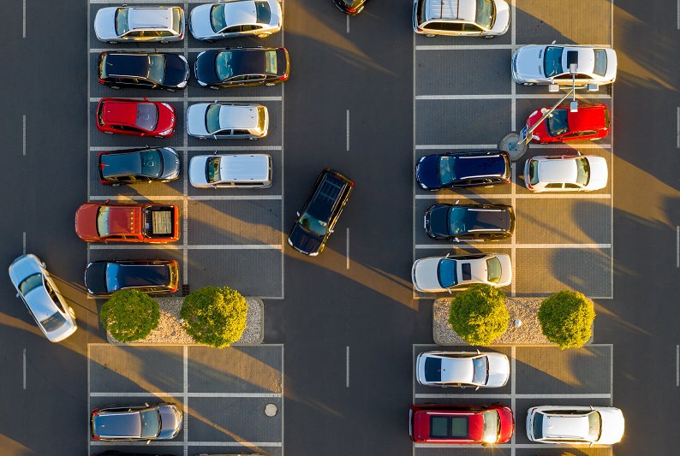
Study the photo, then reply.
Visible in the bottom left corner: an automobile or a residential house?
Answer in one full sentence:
Visible in the bottom left corner is an automobile.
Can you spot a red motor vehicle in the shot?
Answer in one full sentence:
Yes, there's a red motor vehicle down there.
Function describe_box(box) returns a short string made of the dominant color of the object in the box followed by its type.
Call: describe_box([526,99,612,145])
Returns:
red car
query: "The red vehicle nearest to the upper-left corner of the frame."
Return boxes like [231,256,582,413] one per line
[94,91,178,137]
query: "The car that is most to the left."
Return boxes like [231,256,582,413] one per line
[9,255,77,340]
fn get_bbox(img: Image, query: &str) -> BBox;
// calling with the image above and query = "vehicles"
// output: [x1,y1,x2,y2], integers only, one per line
[335,0,376,18]
[189,149,272,192]
[96,144,181,189]
[416,347,510,391]
[94,91,178,137]
[412,251,513,295]
[526,99,612,145]
[526,404,625,448]
[89,403,184,446]
[74,199,179,245]
[187,98,268,141]
[424,199,516,244]
[524,152,608,195]
[415,146,512,192]
[96,46,191,92]
[9,255,77,340]
[290,170,353,254]
[194,44,289,91]
[511,40,619,87]
[408,403,515,448]
[190,0,282,44]
[413,0,510,41]
[94,0,184,46]
[84,255,179,297]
